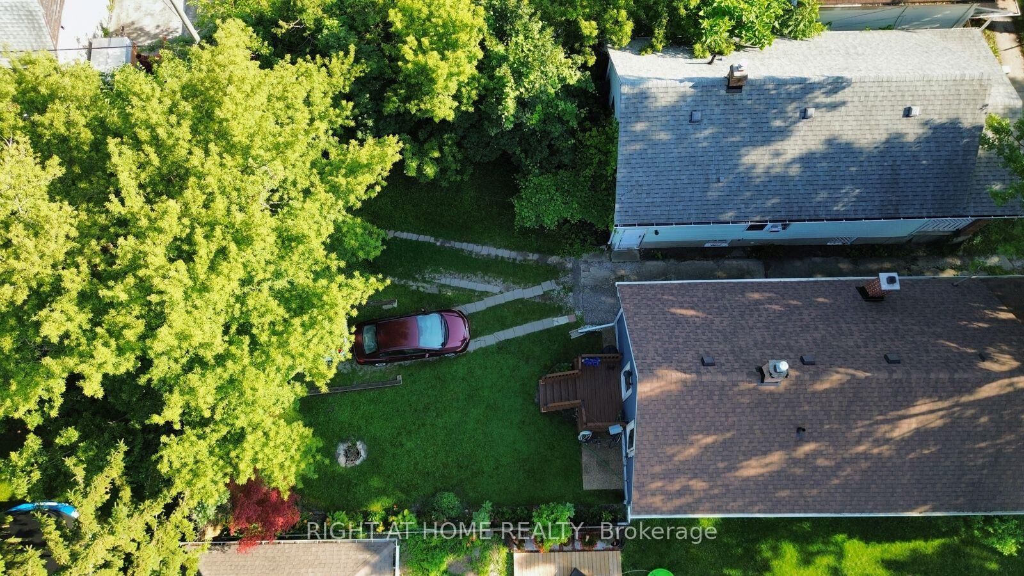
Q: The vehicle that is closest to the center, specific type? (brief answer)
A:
automobile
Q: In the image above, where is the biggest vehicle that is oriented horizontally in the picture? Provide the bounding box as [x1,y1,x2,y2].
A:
[354,309,472,370]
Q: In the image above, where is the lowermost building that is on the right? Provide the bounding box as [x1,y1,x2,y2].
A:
[578,267,1024,525]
